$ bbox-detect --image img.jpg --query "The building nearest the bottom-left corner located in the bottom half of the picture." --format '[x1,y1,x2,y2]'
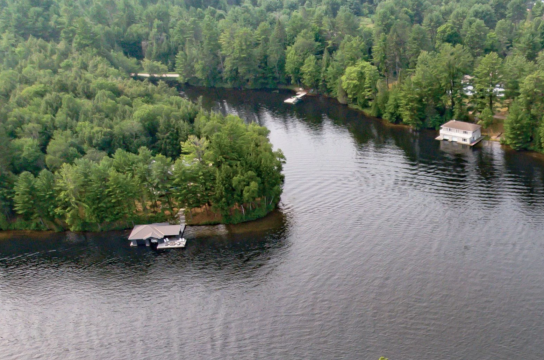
[122,223,190,249]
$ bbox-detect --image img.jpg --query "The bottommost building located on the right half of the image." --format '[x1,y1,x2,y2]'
[437,117,477,144]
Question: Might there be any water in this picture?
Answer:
Yes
